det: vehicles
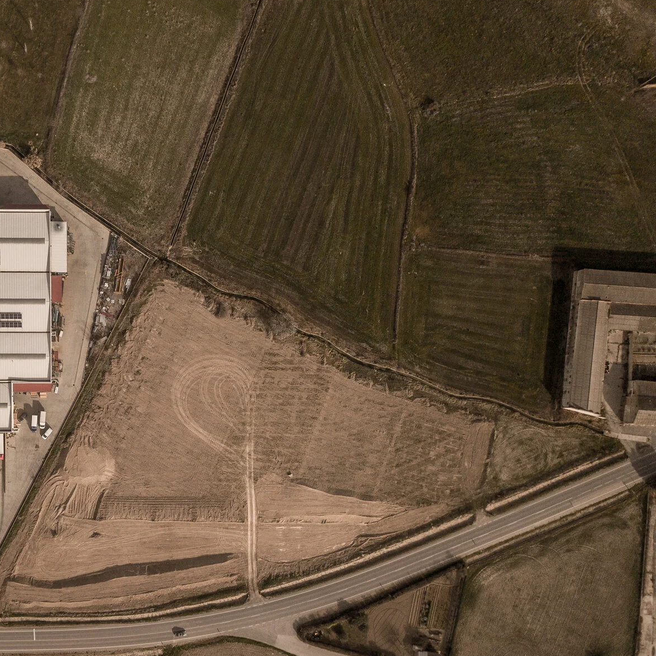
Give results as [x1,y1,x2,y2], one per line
[16,412,27,423]
[32,414,37,433]
[173,631,186,638]
[53,385,59,395]
[41,426,52,441]
[39,411,46,429]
